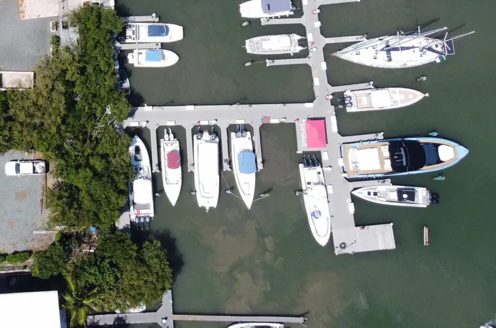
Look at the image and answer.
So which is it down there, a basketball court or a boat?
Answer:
boat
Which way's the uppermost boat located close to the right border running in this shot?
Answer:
from side to side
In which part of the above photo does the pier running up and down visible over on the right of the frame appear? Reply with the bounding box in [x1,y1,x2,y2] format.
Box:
[261,0,396,254]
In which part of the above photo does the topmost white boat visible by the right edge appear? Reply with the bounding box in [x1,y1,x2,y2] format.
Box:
[329,23,473,69]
